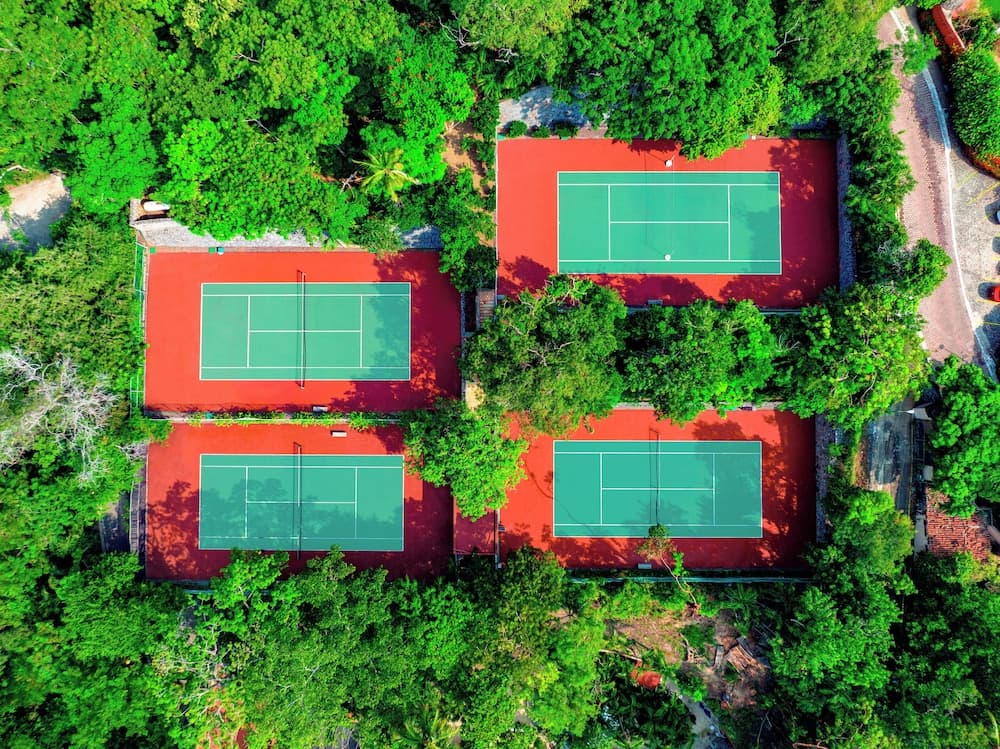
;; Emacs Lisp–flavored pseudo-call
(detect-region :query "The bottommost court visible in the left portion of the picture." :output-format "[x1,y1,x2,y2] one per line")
[146,423,452,583]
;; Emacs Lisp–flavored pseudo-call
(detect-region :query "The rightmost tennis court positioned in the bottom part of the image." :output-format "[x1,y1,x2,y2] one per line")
[500,409,815,569]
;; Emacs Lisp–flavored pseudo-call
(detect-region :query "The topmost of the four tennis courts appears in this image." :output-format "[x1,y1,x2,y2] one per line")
[497,139,839,307]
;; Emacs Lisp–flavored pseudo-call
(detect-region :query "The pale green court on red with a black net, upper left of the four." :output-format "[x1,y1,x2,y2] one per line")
[145,251,461,412]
